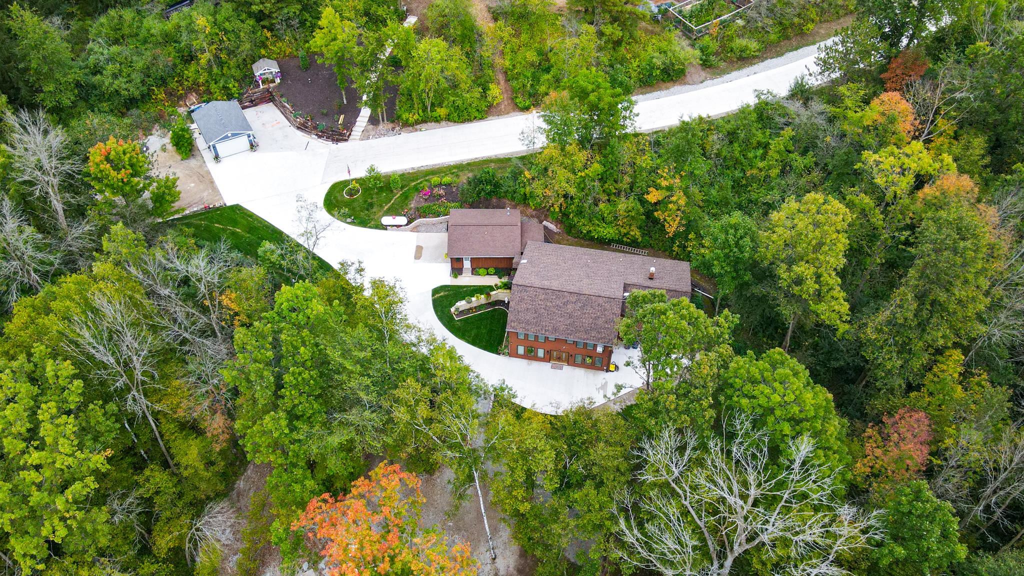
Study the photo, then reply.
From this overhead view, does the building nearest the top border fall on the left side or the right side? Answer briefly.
left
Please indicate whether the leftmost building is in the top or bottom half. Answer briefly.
top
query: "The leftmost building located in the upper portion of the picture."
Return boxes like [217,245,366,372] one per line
[191,101,255,159]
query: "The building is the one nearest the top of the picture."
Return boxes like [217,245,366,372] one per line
[250,55,280,87]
